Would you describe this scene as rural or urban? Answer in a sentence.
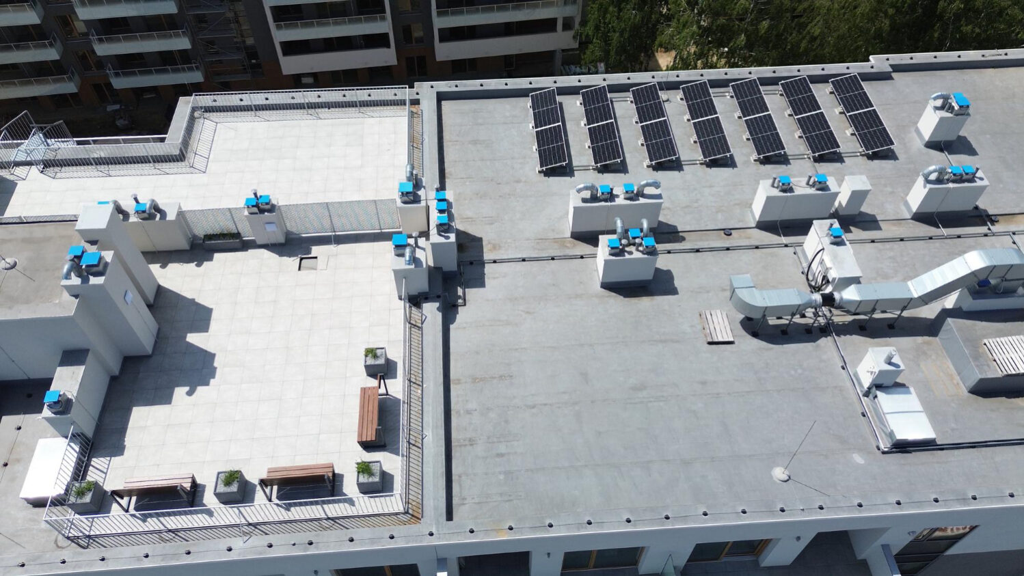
It looks urban.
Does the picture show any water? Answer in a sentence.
No, the scene doesn't show any water.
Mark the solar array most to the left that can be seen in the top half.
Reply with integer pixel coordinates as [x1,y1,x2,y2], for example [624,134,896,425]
[526,85,569,173]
